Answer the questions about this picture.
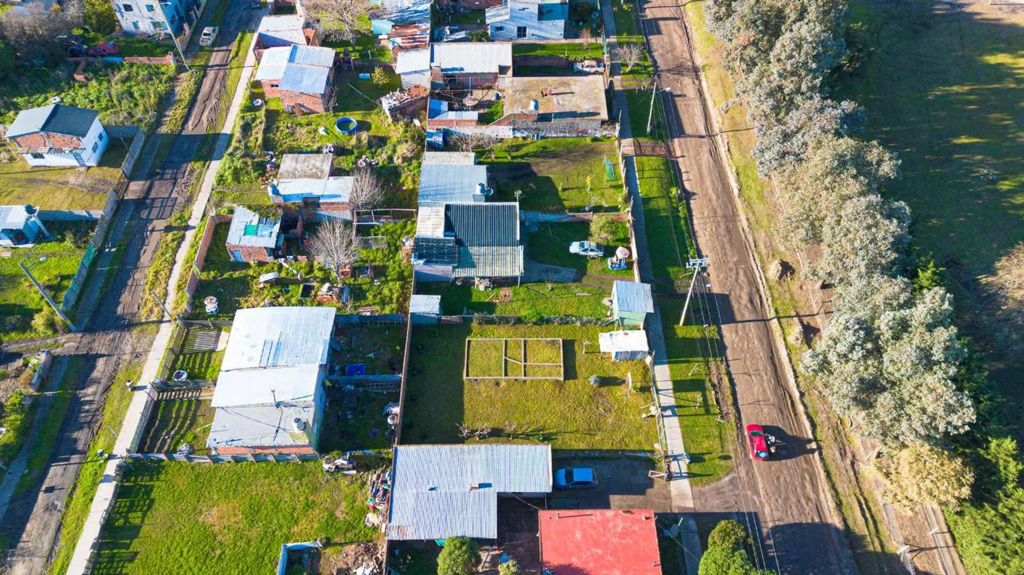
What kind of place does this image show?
residential area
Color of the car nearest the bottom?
blue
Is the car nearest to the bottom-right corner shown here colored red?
Yes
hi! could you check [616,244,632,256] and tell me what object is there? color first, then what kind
white umbrella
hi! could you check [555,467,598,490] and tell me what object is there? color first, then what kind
blue car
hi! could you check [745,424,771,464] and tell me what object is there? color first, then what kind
red car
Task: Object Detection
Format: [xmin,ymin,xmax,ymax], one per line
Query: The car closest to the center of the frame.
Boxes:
[569,240,605,258]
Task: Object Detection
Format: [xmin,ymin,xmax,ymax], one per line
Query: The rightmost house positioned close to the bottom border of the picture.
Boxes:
[538,508,664,575]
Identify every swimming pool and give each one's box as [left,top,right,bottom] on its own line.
[335,117,357,135]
